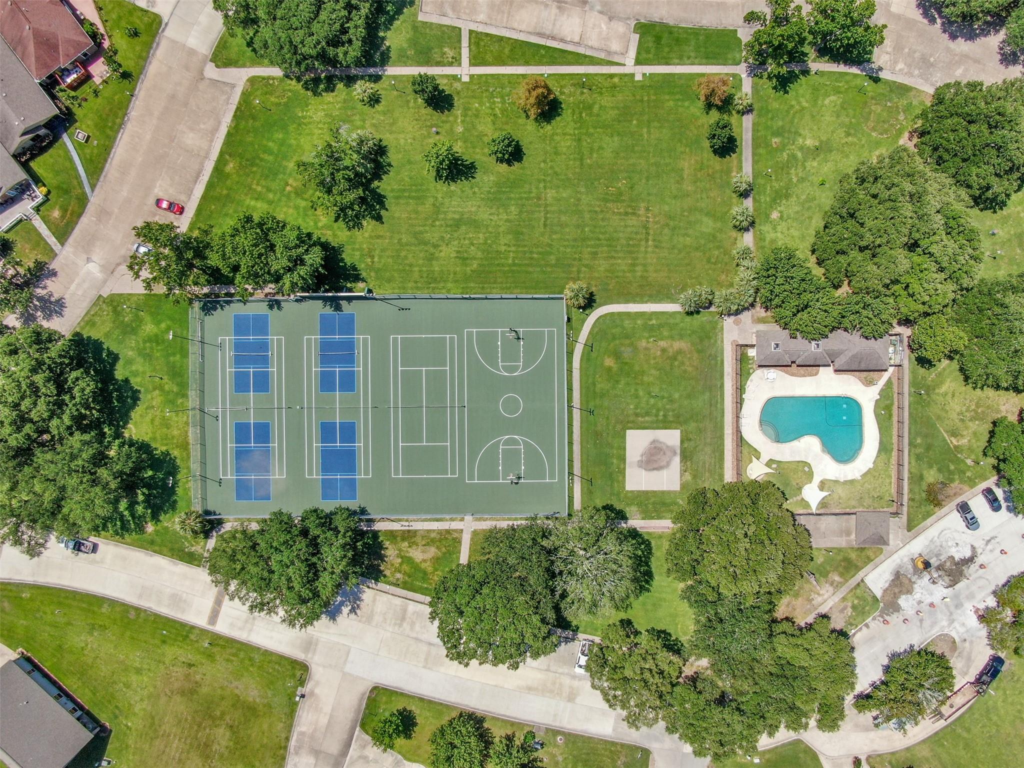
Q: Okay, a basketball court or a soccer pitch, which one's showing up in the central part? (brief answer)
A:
basketball court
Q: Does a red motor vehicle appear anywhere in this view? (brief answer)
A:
Yes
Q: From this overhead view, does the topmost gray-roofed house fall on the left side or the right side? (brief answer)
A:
left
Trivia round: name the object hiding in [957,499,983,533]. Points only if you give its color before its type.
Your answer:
gray truck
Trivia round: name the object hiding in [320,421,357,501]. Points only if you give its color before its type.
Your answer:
blue sports court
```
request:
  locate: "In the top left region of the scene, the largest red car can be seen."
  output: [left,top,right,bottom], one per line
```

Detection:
[152,195,183,214]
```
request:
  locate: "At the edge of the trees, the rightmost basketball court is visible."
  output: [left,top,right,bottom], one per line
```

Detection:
[626,430,680,490]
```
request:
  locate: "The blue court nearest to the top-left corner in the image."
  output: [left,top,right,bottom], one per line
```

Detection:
[233,313,270,394]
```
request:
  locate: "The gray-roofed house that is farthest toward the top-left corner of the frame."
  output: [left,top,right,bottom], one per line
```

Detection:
[0,38,67,152]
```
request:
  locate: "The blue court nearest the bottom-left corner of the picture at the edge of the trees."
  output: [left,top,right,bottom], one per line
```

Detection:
[234,421,271,501]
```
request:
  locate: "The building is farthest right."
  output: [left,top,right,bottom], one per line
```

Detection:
[850,510,890,546]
